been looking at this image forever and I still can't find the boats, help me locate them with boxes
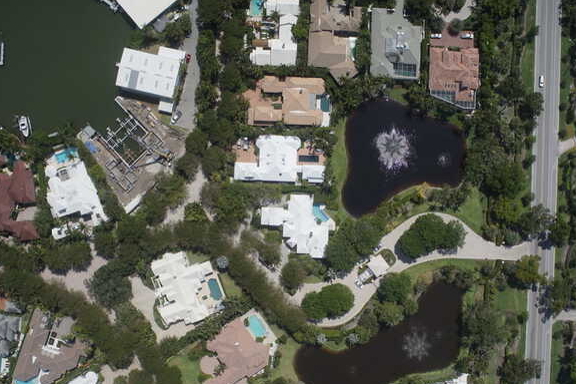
[21,115,28,136]
[102,0,116,10]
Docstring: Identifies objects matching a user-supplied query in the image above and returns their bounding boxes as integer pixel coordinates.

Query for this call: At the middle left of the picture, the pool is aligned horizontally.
[54,148,78,162]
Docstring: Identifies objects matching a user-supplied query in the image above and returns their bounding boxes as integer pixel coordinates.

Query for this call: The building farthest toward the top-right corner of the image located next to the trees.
[429,47,481,108]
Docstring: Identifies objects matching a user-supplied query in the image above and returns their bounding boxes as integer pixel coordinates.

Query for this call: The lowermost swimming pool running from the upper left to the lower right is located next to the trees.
[250,314,266,335]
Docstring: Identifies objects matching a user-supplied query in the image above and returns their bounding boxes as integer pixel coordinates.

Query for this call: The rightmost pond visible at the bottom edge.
[295,281,461,384]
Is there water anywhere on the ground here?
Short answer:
Yes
